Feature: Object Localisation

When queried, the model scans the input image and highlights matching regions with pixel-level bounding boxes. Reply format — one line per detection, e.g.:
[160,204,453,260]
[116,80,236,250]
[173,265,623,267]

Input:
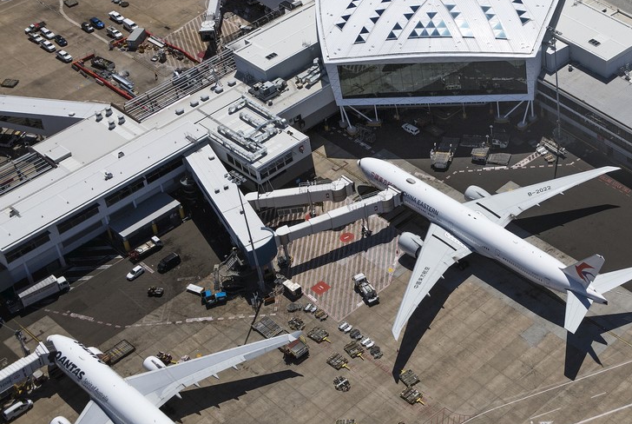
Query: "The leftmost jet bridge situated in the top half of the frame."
[0,94,108,148]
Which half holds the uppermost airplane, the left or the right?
right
